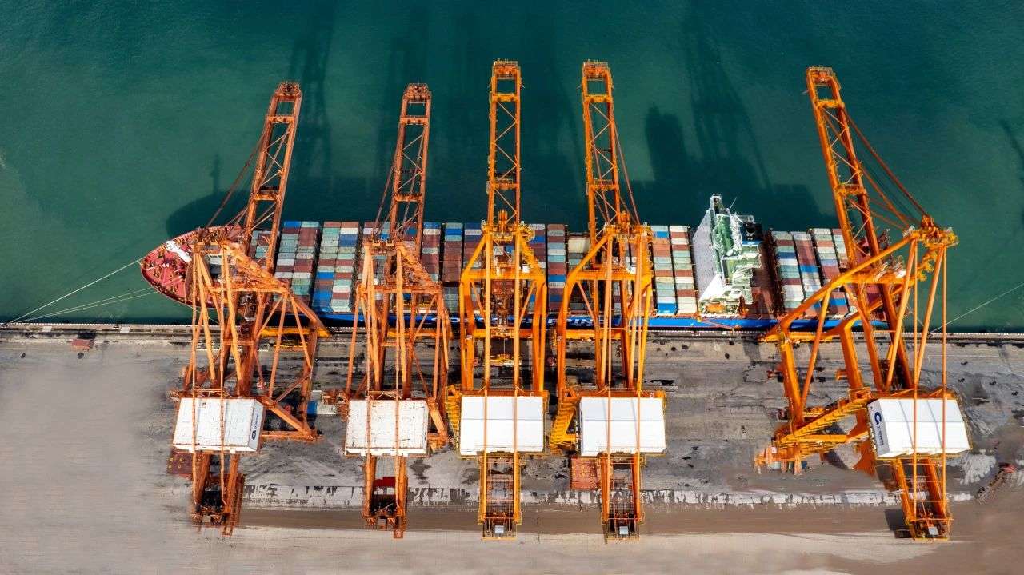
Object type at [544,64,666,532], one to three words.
container crane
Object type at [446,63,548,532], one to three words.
container crane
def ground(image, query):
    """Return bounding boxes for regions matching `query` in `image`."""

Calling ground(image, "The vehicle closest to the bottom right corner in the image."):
[981,460,1020,498]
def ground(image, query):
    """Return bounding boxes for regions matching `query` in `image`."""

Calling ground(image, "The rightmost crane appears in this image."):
[770,68,970,534]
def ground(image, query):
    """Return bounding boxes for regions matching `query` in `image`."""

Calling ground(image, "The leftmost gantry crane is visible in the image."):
[168,81,334,537]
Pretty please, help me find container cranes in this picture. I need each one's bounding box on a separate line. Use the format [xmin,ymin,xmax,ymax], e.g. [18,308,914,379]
[544,64,666,532]
[770,68,970,534]
[446,63,548,532]
[340,83,459,538]
[168,81,334,537]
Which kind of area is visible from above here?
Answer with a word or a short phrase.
port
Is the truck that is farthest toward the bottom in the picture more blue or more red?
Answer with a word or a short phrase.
red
